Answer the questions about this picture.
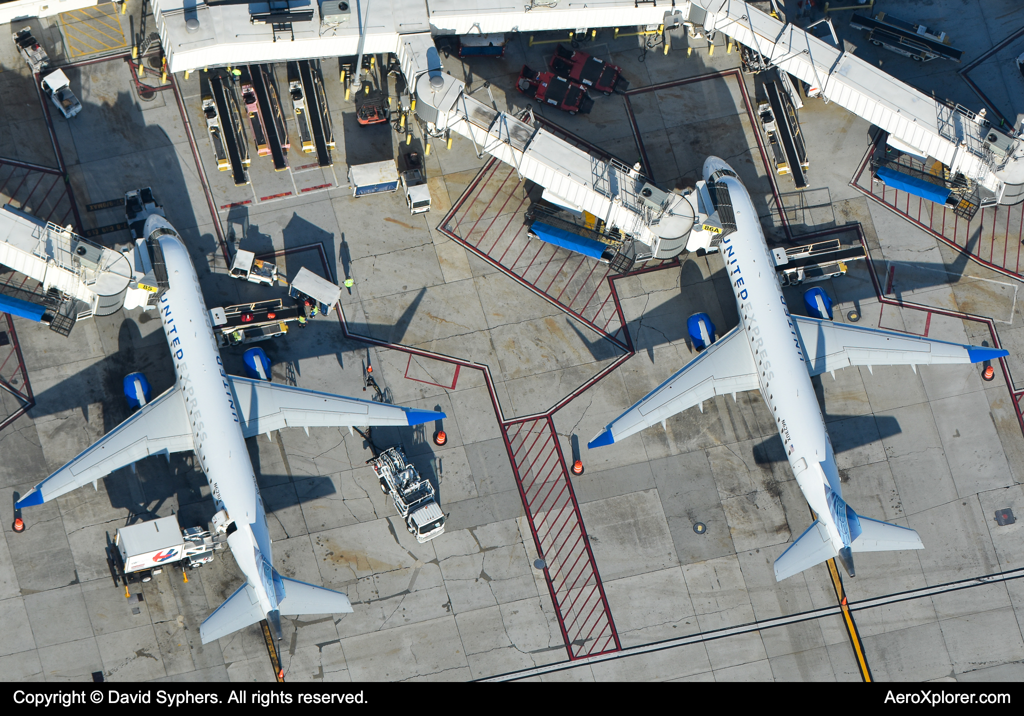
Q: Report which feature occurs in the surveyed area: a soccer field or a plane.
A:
plane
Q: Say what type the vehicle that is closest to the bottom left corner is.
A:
truck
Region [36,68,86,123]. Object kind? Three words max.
work vehicle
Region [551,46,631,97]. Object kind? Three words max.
work vehicle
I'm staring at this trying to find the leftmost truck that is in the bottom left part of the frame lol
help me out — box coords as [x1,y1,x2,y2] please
[99,515,223,603]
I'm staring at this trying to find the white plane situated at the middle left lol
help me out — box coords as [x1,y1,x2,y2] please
[14,215,446,645]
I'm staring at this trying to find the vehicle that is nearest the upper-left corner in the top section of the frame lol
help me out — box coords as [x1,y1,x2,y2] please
[9,26,55,76]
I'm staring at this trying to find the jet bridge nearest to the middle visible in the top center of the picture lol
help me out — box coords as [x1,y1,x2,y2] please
[415,67,736,294]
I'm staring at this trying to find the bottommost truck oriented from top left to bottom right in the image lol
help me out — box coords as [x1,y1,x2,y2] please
[366,445,451,543]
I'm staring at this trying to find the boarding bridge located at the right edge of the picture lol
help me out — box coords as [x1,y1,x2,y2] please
[695,0,1024,239]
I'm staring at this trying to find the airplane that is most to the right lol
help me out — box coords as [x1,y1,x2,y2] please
[587,158,1009,582]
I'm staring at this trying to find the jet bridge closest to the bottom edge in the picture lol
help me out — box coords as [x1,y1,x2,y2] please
[0,204,173,356]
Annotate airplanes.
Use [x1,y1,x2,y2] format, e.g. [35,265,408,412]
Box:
[14,215,446,645]
[587,158,1009,582]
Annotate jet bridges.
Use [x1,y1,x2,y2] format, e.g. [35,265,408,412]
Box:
[0,204,173,356]
[695,0,1024,239]
[415,67,736,294]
